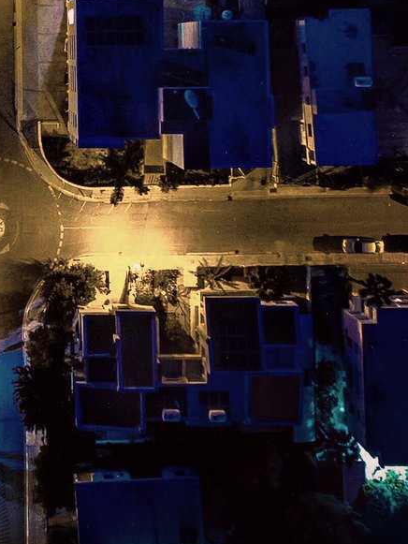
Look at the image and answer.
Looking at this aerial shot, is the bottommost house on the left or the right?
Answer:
left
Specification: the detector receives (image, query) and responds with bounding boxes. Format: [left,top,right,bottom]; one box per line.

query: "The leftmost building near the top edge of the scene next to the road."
[70,0,273,169]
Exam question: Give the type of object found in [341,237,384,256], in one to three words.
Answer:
car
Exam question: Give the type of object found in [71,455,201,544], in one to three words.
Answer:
house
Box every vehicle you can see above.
[385,236,408,254]
[341,237,384,256]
